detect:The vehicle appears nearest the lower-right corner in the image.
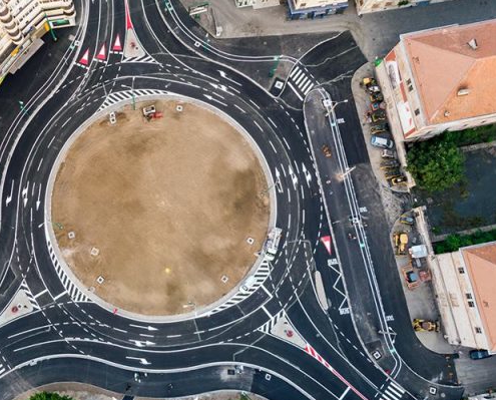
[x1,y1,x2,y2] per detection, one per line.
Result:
[465,349,491,361]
